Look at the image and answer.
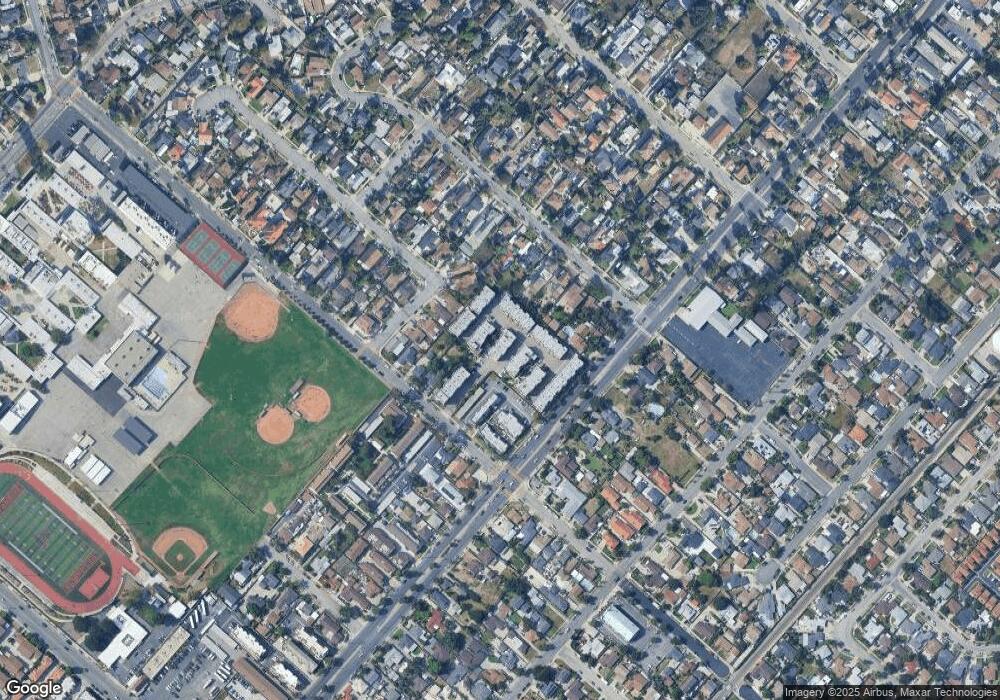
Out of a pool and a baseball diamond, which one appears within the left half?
baseball diamond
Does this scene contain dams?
No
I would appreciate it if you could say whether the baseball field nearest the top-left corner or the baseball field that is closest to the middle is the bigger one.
the baseball field nearest the top-left corner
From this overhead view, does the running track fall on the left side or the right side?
left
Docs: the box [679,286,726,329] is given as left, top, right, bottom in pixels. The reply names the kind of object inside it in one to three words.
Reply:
building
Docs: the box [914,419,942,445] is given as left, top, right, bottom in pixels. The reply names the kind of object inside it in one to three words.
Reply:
house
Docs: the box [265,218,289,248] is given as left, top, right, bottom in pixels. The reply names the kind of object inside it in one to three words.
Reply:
house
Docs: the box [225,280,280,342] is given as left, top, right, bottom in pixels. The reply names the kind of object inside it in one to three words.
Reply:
baseball field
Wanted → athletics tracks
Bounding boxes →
[0,461,137,614]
